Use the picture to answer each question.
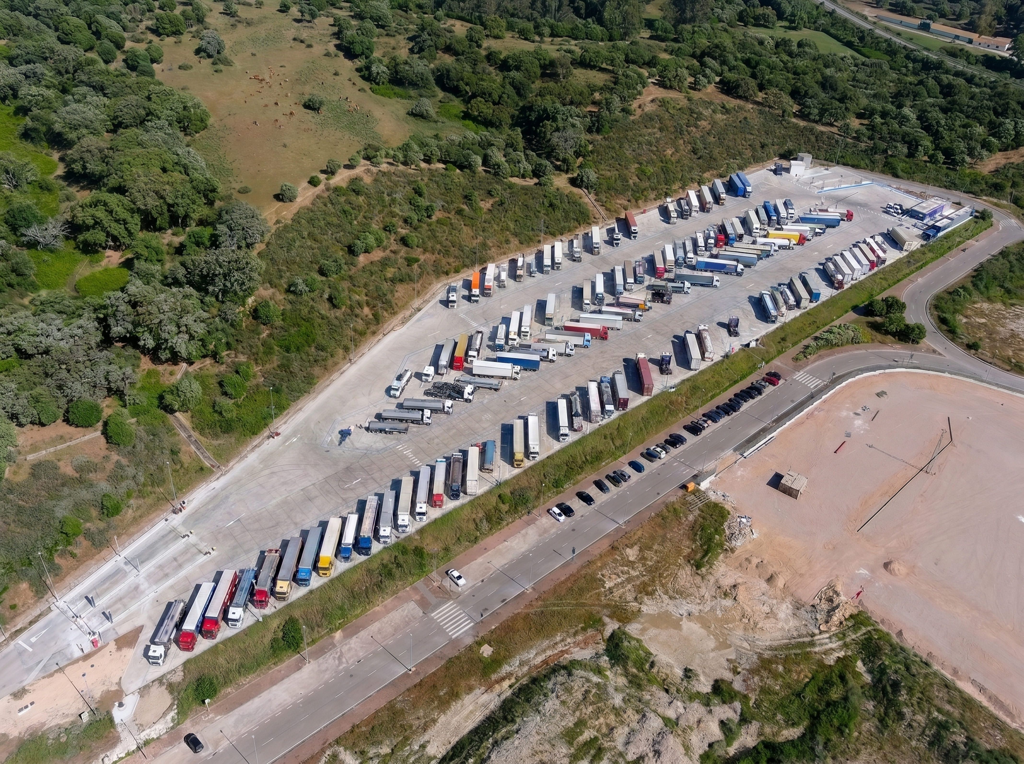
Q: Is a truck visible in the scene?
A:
Yes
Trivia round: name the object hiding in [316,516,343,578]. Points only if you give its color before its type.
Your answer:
white truck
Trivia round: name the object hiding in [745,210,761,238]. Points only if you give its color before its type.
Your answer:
white vehicle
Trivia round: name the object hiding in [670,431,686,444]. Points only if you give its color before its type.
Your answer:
black vehicle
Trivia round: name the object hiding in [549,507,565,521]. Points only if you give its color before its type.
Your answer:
white car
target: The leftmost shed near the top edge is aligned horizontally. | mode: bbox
[877,11,922,29]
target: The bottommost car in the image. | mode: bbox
[185,732,202,754]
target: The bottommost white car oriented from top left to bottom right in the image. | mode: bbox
[449,572,466,587]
